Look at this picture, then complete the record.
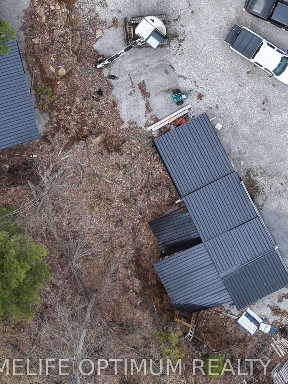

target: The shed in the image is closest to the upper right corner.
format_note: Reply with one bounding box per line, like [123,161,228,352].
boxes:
[153,113,237,197]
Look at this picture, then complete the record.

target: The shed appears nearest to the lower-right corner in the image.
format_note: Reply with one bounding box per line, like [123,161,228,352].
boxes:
[223,249,288,310]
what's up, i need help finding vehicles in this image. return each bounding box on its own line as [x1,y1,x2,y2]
[243,0,288,30]
[228,26,288,80]
[97,18,166,66]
